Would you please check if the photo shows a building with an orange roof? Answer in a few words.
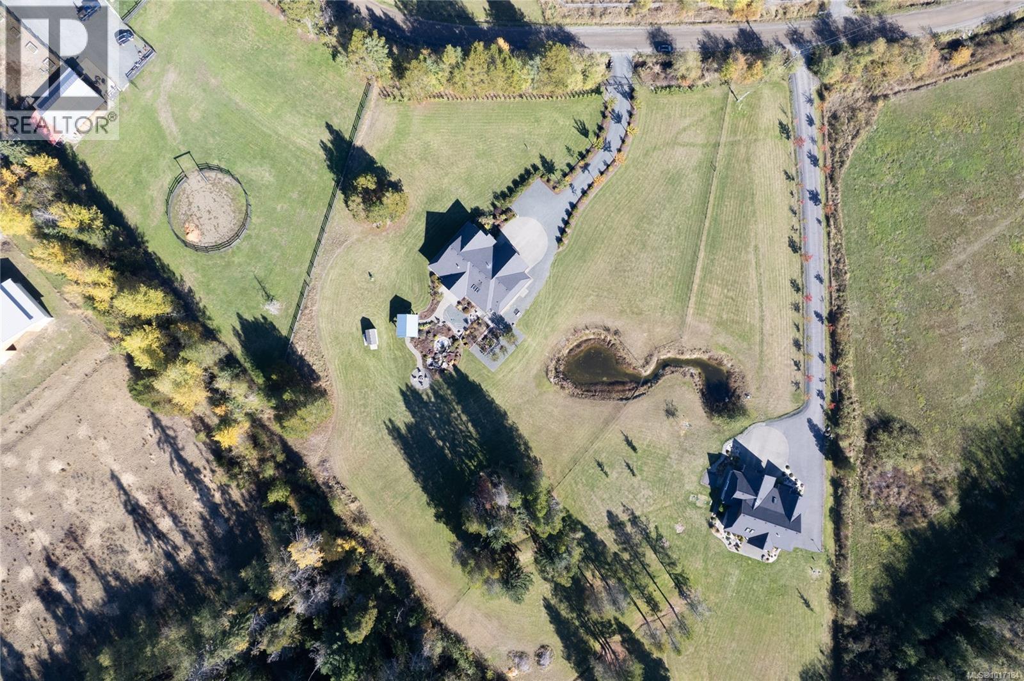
No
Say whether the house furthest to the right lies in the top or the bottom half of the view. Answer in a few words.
bottom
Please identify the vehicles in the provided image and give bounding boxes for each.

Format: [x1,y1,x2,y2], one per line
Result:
[654,41,674,53]
[76,0,104,22]
[113,30,138,47]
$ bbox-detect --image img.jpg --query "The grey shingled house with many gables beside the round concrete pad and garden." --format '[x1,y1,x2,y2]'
[428,221,533,316]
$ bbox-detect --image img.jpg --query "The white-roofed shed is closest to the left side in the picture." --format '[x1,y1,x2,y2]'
[0,278,51,358]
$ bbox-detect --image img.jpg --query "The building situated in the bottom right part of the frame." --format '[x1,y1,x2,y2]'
[723,468,809,552]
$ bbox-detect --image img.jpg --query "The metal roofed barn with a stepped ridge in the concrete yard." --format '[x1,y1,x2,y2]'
[33,66,112,142]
